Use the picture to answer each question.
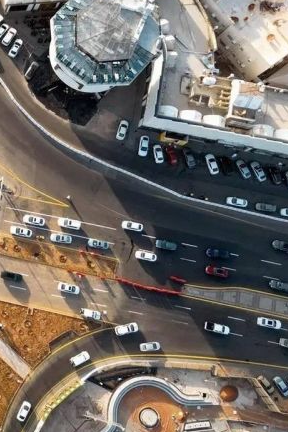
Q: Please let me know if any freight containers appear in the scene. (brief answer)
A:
No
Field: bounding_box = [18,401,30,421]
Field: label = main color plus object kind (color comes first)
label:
white vehicle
